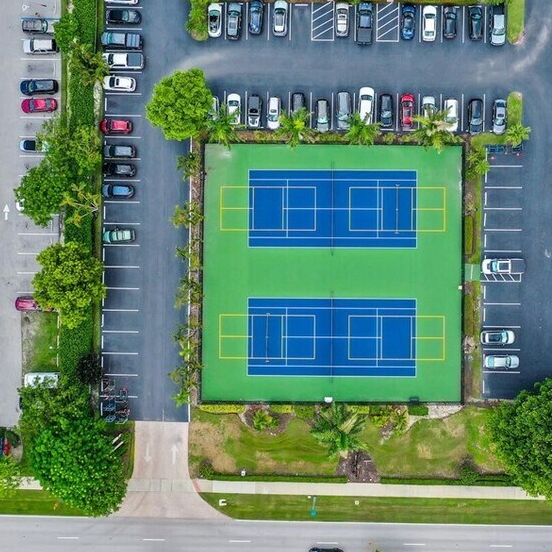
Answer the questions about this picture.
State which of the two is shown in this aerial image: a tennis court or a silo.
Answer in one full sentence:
There is a tennis court in the scene.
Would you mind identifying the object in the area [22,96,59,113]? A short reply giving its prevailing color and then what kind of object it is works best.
pink car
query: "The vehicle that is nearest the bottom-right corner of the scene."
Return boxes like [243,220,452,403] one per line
[483,354,519,371]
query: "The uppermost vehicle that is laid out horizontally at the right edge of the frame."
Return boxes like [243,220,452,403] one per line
[481,257,526,275]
